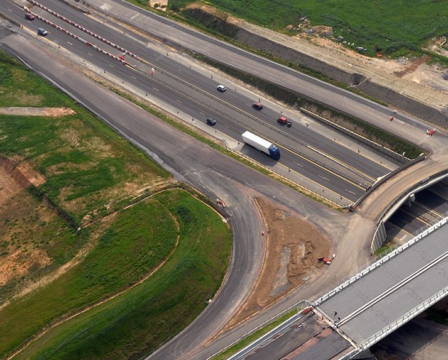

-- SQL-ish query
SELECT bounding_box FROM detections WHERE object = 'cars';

[253,102,264,109]
[24,12,33,19]
[38,27,47,34]
[206,116,216,124]
[216,84,227,92]
[277,116,287,124]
